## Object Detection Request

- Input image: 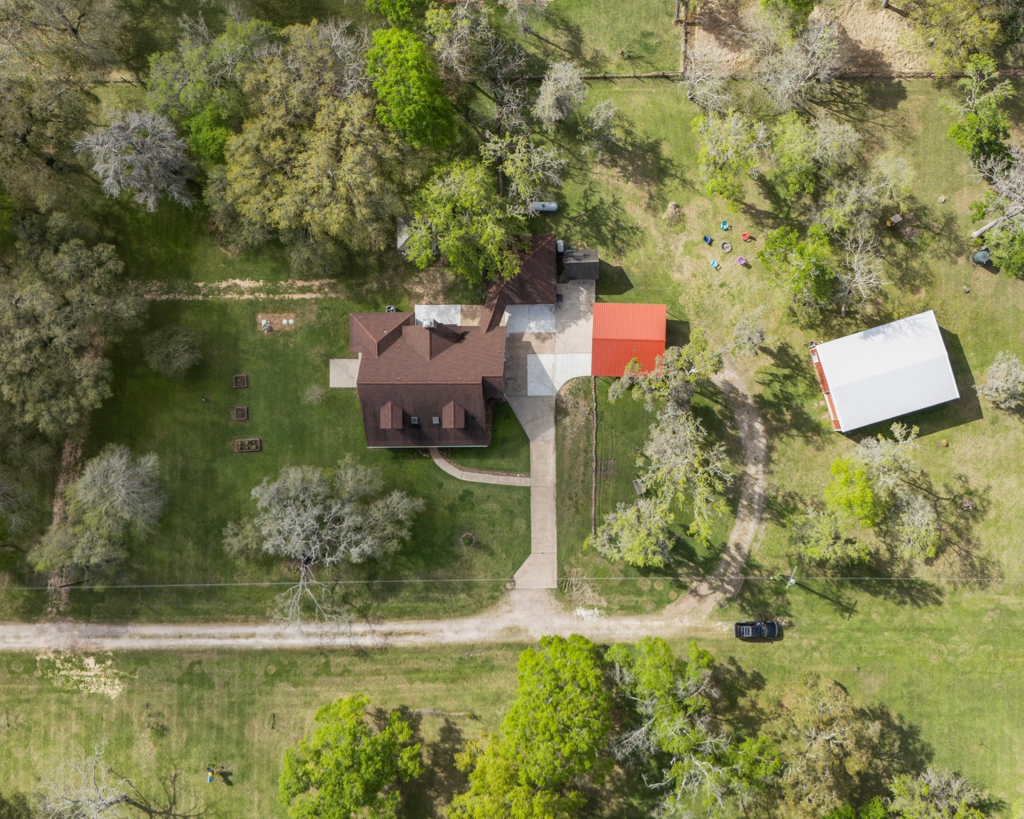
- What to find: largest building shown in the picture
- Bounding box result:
[350,234,556,448]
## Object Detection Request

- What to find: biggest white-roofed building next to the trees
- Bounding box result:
[809,310,959,431]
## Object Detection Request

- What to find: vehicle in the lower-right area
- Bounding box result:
[733,613,778,640]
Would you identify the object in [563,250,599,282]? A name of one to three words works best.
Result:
shed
